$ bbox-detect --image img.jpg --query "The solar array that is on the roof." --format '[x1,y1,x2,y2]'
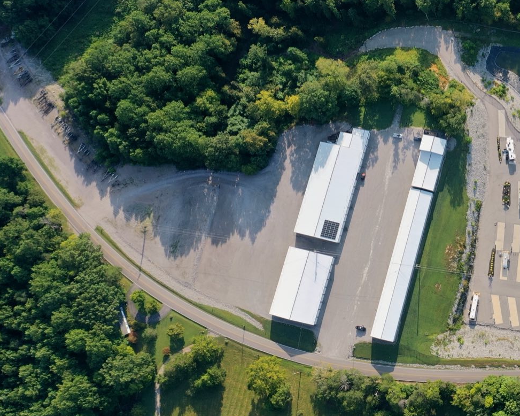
[321,221,339,239]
